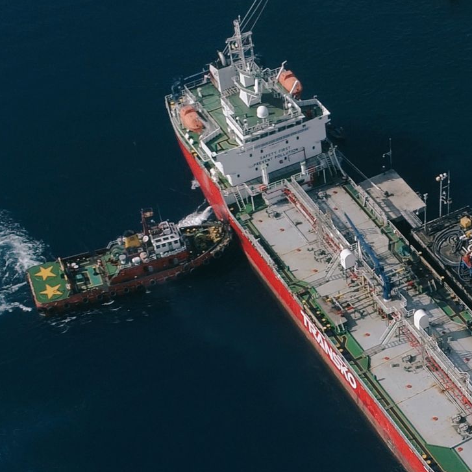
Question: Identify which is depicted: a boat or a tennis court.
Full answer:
Of the two, only a boat appears.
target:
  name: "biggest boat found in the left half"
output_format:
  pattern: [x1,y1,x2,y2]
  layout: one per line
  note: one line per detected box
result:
[25,196,239,316]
